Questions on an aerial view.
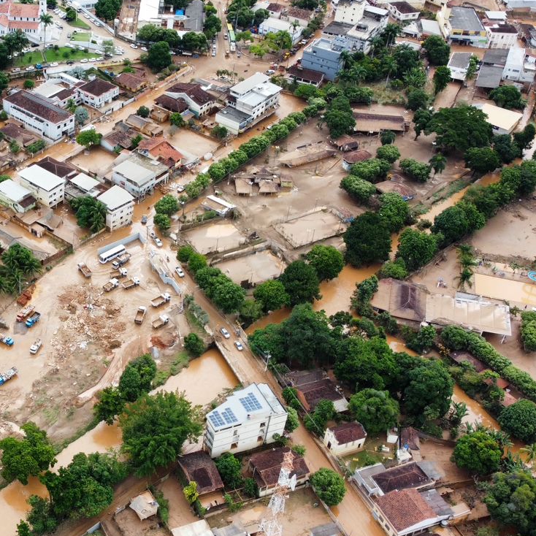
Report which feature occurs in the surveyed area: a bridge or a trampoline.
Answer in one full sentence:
I can see a bridge in this picture.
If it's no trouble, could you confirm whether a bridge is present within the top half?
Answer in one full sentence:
No, no bridge is visible within the top half.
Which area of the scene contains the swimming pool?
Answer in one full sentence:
The swimming pool appears toward the right of the photo.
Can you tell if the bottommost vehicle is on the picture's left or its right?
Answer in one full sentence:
The bottommost vehicle sits on the left side.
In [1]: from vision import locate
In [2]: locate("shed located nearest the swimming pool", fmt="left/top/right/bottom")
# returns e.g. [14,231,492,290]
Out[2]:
[424,295,511,349]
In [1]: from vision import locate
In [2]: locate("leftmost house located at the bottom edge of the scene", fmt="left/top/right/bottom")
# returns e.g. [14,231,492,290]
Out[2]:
[129,494,161,525]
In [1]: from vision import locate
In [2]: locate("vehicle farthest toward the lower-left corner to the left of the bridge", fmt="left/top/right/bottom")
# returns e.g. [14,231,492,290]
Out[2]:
[0,363,21,385]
